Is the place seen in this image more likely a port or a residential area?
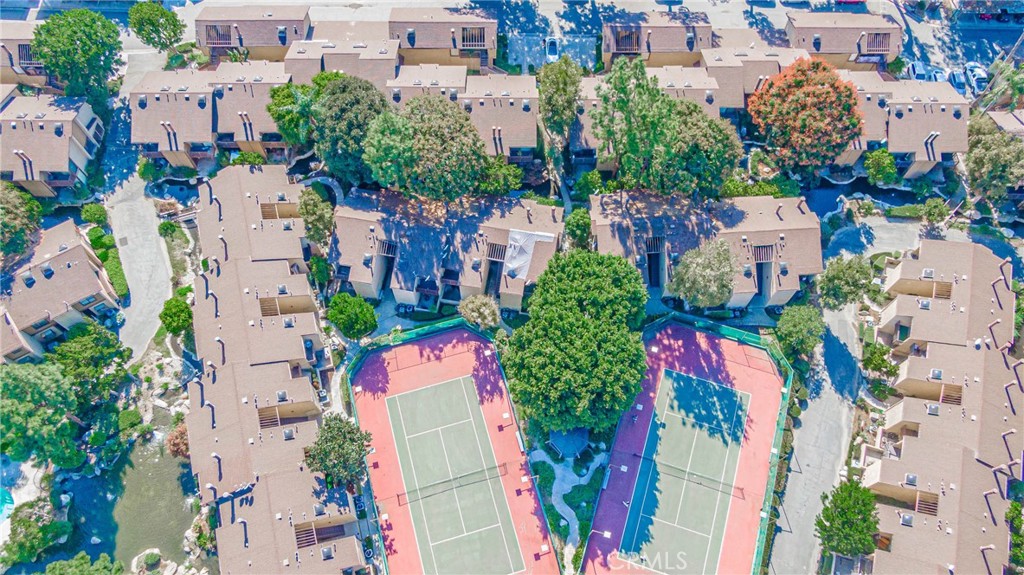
residential area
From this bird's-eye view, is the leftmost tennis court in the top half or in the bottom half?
bottom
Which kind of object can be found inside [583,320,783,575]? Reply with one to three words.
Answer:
tennis court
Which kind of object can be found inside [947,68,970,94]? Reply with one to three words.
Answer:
car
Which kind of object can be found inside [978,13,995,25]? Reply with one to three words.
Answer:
vehicle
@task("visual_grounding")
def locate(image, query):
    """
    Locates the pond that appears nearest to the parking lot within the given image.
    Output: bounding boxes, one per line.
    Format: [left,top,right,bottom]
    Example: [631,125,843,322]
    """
[800,177,937,227]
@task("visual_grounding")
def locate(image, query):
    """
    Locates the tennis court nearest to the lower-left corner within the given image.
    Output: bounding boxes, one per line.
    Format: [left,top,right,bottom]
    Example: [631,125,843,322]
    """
[349,328,562,575]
